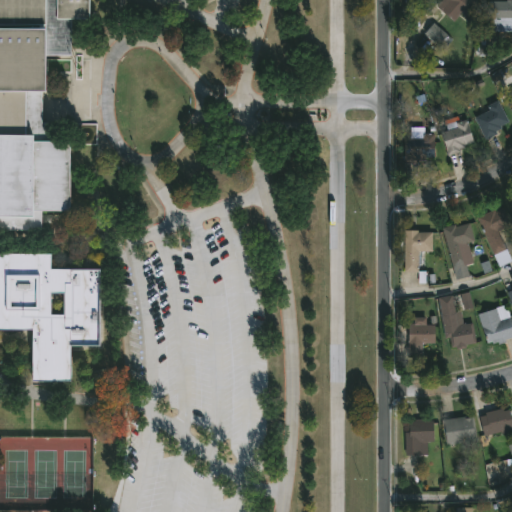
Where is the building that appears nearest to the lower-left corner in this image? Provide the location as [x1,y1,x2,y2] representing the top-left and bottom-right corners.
[0,253,100,380]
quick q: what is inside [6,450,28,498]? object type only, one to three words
tennis court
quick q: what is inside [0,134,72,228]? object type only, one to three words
building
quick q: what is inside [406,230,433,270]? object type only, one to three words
house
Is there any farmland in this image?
No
